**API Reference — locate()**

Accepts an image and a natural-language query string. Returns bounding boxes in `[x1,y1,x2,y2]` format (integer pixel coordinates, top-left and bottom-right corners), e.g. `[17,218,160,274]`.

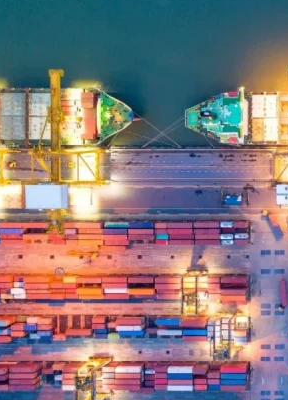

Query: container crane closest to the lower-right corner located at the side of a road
[210,312,243,368]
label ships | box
[185,88,288,147]
[0,87,139,147]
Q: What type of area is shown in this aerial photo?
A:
port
